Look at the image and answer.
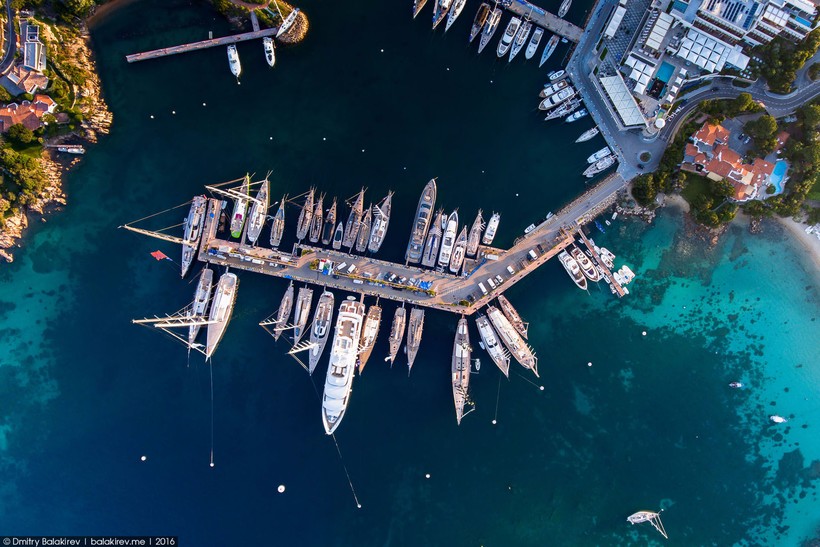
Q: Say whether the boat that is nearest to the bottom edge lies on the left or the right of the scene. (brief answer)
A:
right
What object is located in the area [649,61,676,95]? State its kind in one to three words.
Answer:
swimming pool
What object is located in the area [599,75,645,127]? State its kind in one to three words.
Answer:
building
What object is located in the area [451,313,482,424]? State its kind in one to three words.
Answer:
boat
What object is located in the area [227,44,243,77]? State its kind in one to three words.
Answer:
boat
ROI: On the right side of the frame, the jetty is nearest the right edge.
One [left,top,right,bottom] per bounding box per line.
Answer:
[577,228,628,299]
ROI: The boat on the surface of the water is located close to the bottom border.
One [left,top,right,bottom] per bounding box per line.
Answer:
[627,511,669,538]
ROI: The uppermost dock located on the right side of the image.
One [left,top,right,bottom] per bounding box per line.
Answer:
[485,0,583,43]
